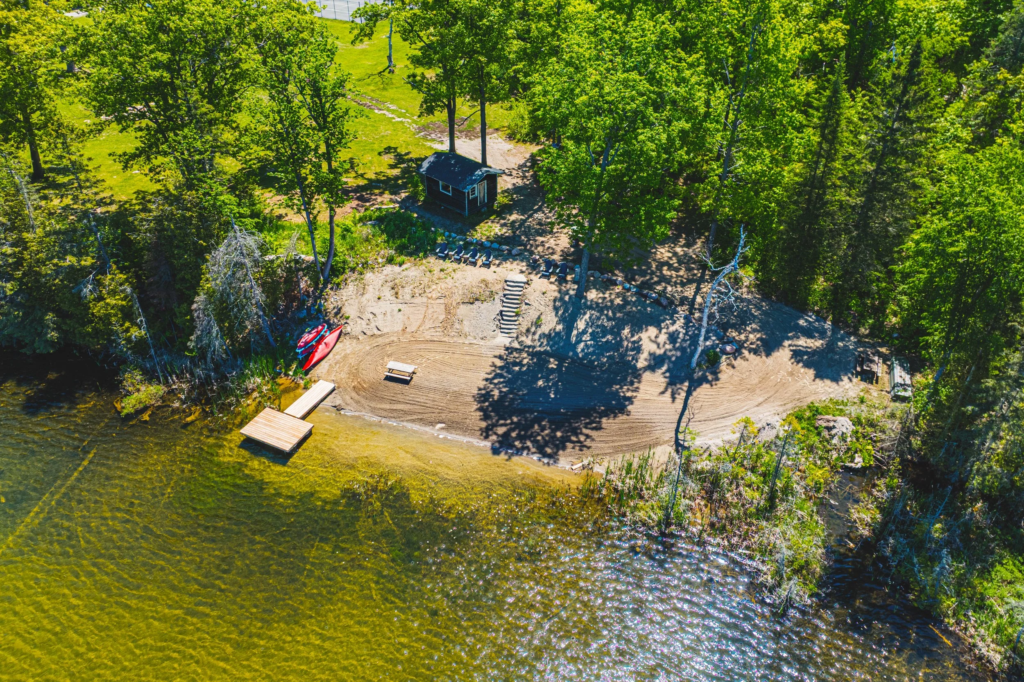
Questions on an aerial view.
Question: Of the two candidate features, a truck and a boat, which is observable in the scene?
boat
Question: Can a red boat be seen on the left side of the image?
Yes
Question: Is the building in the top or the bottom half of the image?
top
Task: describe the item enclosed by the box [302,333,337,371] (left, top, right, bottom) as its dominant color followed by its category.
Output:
red boat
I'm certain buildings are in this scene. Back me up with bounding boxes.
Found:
[421,152,503,216]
